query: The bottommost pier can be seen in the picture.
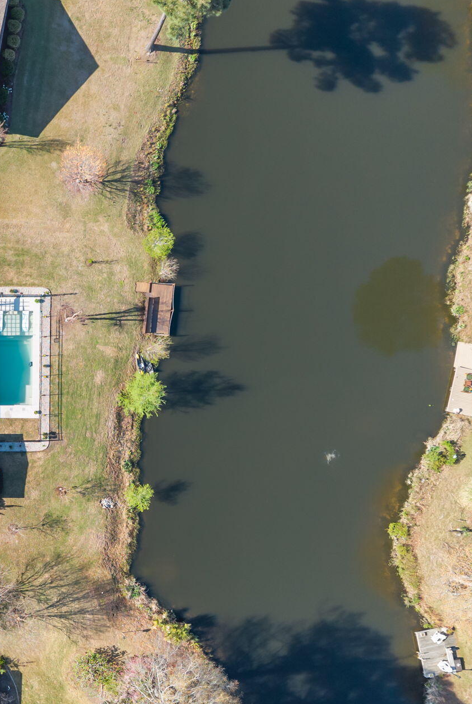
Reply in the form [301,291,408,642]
[410,626,457,678]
